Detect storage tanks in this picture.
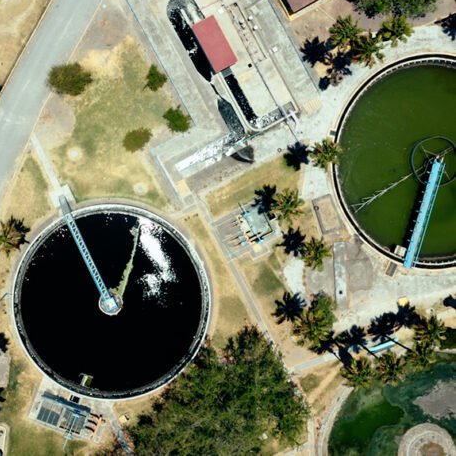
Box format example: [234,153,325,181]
[12,203,211,402]
[331,53,456,270]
